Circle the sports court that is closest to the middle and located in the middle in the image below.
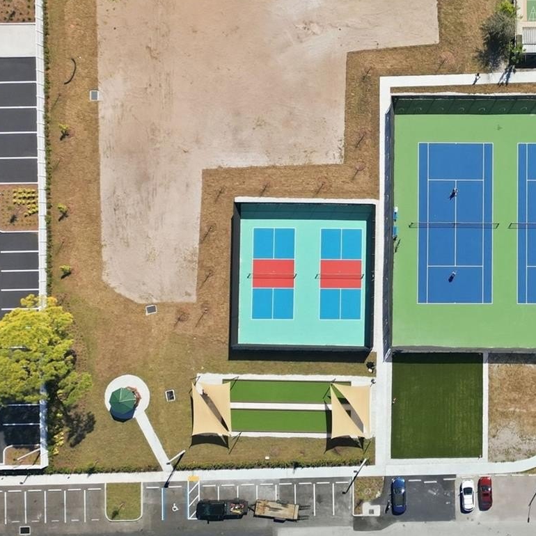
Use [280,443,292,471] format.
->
[236,199,377,349]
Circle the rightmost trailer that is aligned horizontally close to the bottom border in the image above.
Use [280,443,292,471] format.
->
[248,499,308,519]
